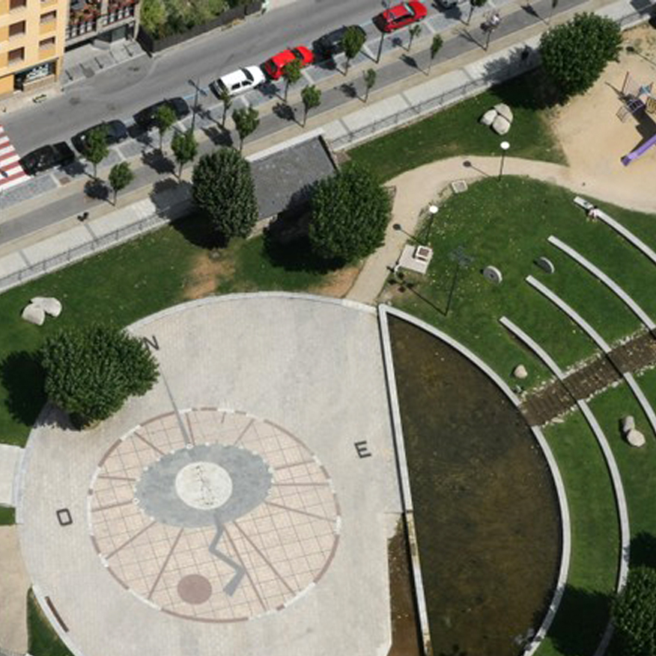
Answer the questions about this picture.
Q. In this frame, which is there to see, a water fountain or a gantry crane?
water fountain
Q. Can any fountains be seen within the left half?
No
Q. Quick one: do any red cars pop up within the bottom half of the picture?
No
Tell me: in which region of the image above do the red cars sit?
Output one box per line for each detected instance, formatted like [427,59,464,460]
[373,0,431,32]
[261,43,316,78]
